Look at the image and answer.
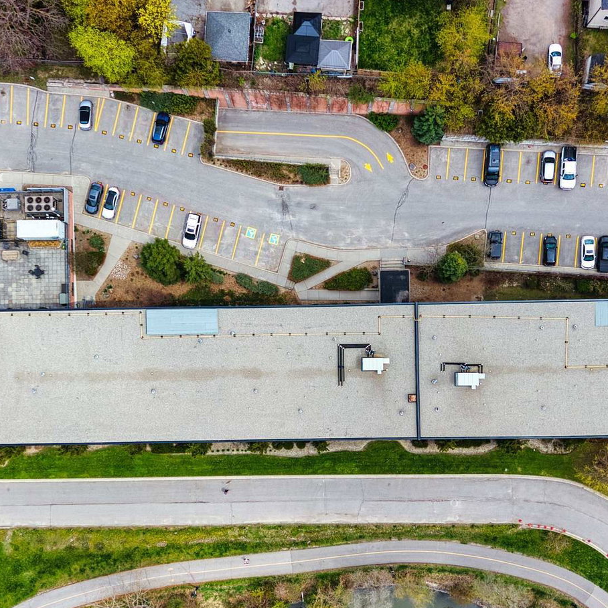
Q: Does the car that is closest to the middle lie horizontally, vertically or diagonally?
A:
vertically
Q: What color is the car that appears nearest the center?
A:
white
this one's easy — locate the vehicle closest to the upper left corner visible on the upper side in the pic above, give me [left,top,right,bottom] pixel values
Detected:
[77,98,94,133]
